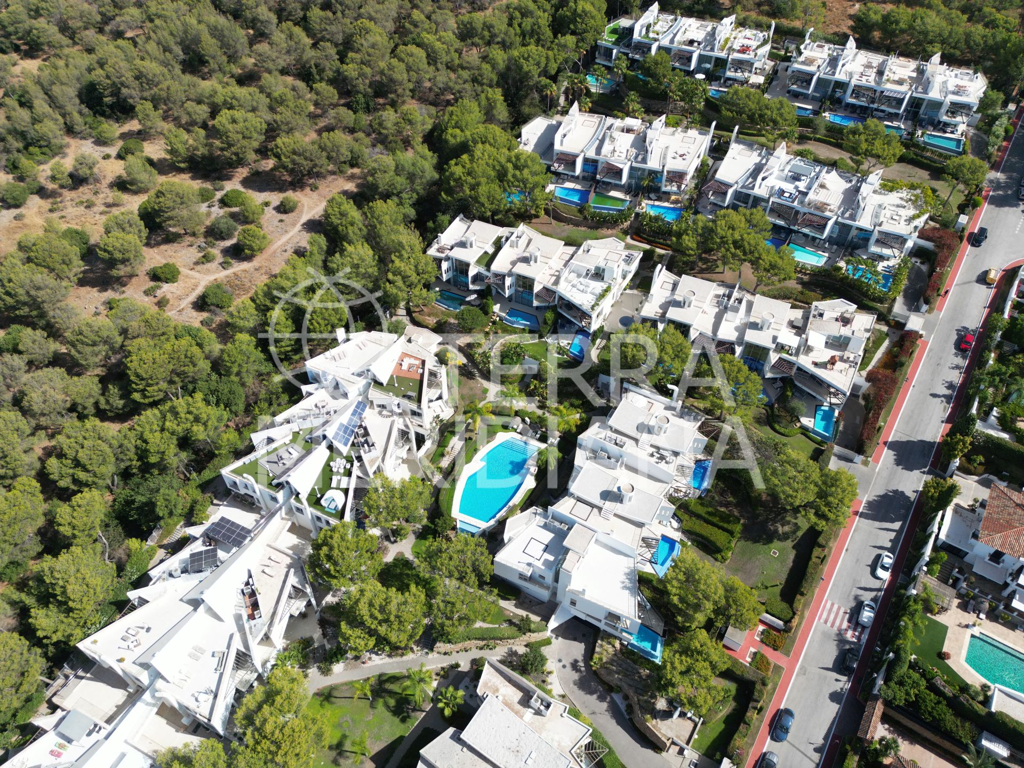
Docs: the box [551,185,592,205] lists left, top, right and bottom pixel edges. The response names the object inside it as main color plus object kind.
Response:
blue swimming pool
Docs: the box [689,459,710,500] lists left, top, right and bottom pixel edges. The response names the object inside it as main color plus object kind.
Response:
blue swimming pool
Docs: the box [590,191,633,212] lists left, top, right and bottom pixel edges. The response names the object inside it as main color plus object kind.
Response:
green swimming pool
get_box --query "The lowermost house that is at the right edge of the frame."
[930,481,1024,623]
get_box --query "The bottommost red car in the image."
[957,334,975,354]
